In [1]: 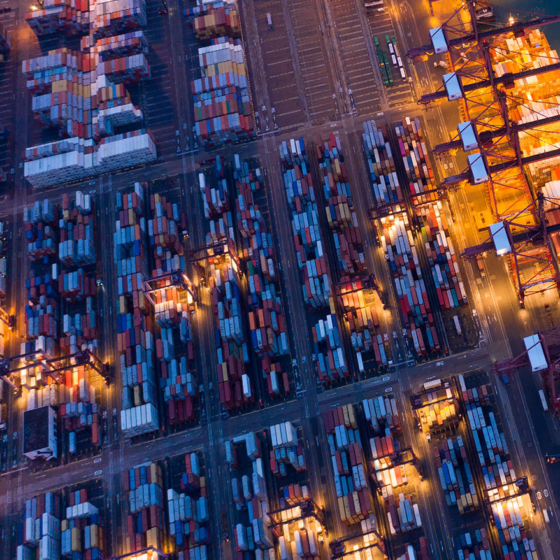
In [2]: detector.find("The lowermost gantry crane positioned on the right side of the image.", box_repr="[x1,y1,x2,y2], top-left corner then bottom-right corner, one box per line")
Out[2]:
[331,528,390,560]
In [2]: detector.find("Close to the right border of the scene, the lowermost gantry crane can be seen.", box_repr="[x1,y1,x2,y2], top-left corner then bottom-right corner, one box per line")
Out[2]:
[481,476,534,524]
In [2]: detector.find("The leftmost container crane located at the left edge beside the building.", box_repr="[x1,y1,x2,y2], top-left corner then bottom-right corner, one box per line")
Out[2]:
[0,351,60,396]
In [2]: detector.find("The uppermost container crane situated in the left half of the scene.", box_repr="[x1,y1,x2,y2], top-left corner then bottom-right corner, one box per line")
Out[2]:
[191,240,245,284]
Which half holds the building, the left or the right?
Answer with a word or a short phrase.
left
